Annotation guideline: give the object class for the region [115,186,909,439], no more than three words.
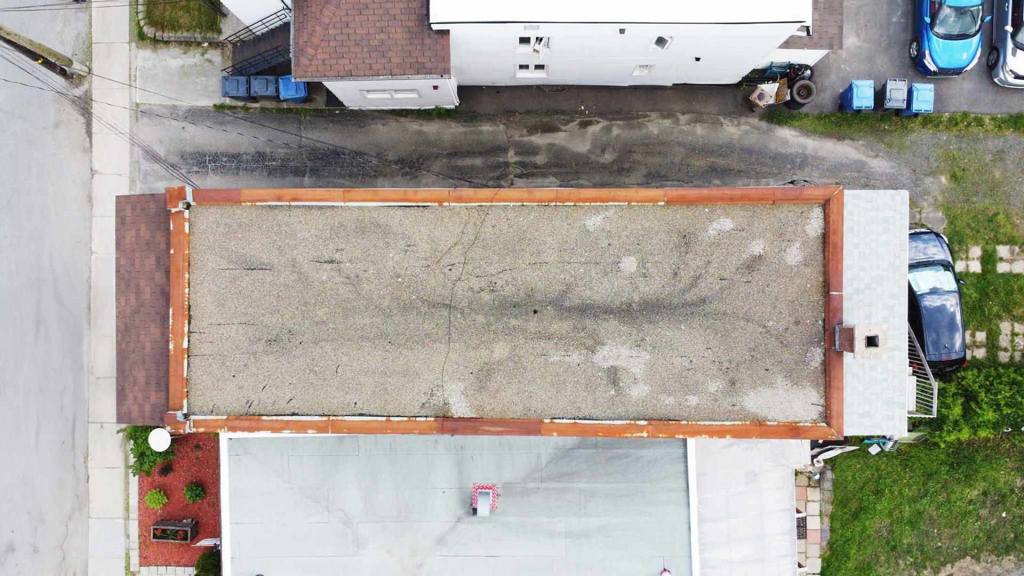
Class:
building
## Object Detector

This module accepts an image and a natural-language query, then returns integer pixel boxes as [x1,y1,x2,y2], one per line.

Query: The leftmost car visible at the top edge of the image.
[910,0,995,77]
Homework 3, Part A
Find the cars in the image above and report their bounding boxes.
[986,0,1024,91]
[908,230,971,375]
[910,0,995,77]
